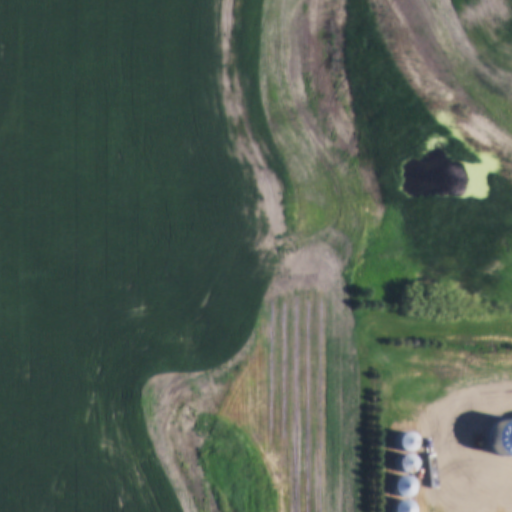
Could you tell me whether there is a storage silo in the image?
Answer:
Yes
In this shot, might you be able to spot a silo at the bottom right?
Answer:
Yes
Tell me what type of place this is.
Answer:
farmland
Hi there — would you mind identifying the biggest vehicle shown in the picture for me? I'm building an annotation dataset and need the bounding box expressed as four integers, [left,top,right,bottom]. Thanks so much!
[427,438,440,488]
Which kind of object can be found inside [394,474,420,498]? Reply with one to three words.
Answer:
silo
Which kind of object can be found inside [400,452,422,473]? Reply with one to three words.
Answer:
silo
